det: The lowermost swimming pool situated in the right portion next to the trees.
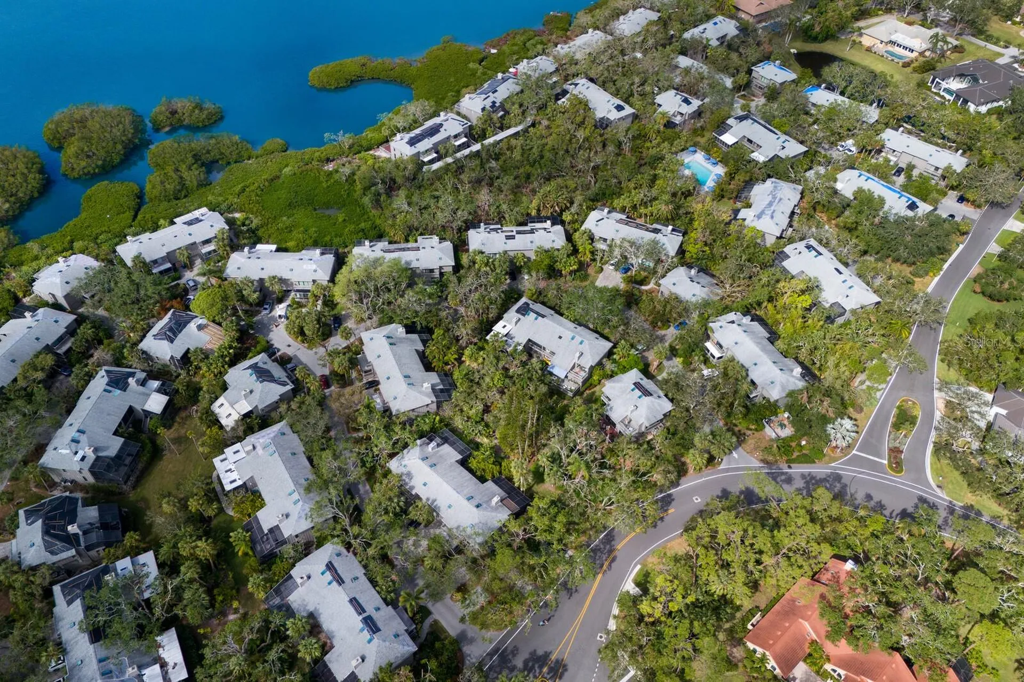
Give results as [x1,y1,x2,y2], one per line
[678,147,728,190]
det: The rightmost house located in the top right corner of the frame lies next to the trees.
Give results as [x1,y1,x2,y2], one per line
[924,61,1024,118]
